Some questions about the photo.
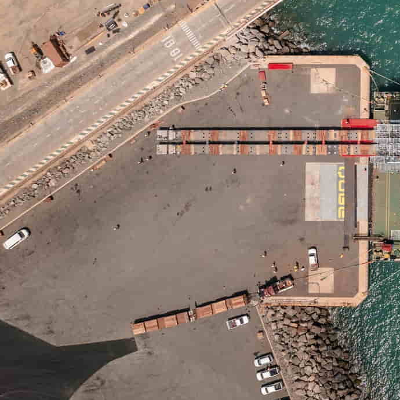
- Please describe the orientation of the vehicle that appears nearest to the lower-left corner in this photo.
at an angle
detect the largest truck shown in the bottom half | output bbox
[254,277,292,300]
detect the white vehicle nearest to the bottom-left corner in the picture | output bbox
[1,227,27,249]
